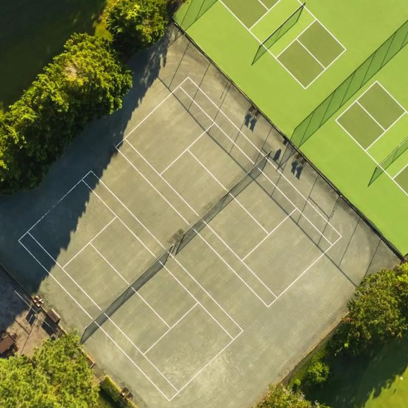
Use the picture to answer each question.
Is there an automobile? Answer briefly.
No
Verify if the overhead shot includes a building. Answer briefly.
No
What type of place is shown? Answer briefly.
sports ground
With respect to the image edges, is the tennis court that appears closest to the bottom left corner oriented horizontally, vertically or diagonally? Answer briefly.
diagonally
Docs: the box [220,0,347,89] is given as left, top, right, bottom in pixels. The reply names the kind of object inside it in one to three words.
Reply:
sports court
